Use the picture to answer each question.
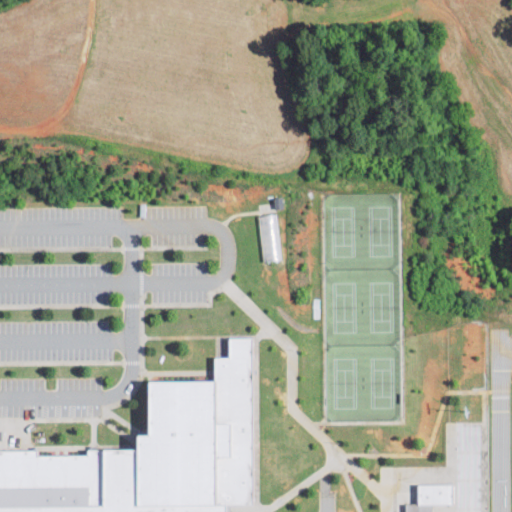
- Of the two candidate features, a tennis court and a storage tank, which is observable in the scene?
tennis court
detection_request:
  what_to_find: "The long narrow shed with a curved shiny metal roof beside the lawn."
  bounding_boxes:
[260,214,282,264]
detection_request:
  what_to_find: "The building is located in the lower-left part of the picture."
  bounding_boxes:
[0,338,253,512]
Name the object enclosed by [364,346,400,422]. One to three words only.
tennis court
